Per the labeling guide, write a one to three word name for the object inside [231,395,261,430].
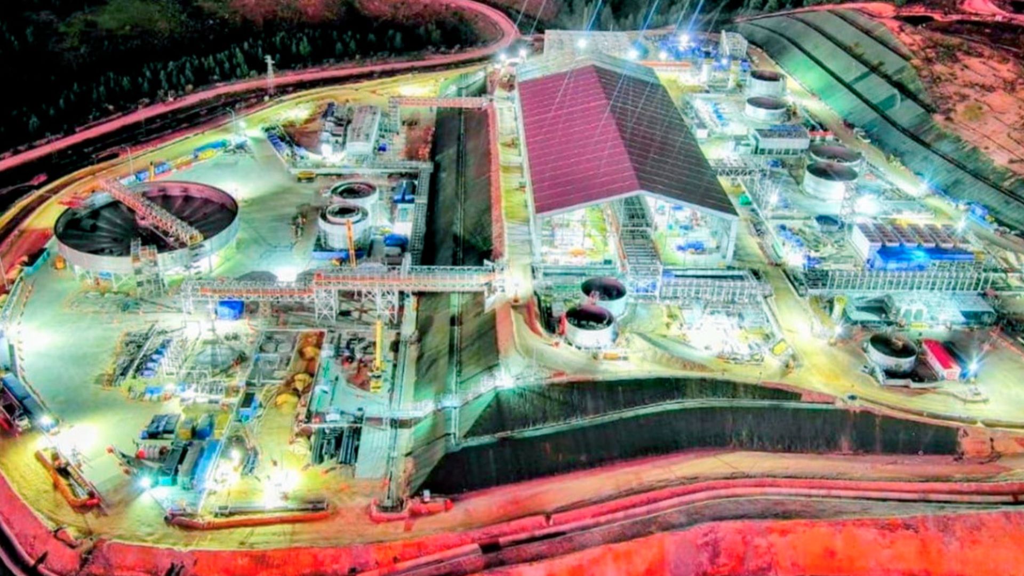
truck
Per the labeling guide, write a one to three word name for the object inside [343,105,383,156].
shed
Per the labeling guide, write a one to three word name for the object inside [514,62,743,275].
building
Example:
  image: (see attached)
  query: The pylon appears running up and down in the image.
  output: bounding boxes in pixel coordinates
[255,51,274,101]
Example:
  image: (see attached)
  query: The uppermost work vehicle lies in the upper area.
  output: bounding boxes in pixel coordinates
[490,73,515,86]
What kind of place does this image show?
industrial area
